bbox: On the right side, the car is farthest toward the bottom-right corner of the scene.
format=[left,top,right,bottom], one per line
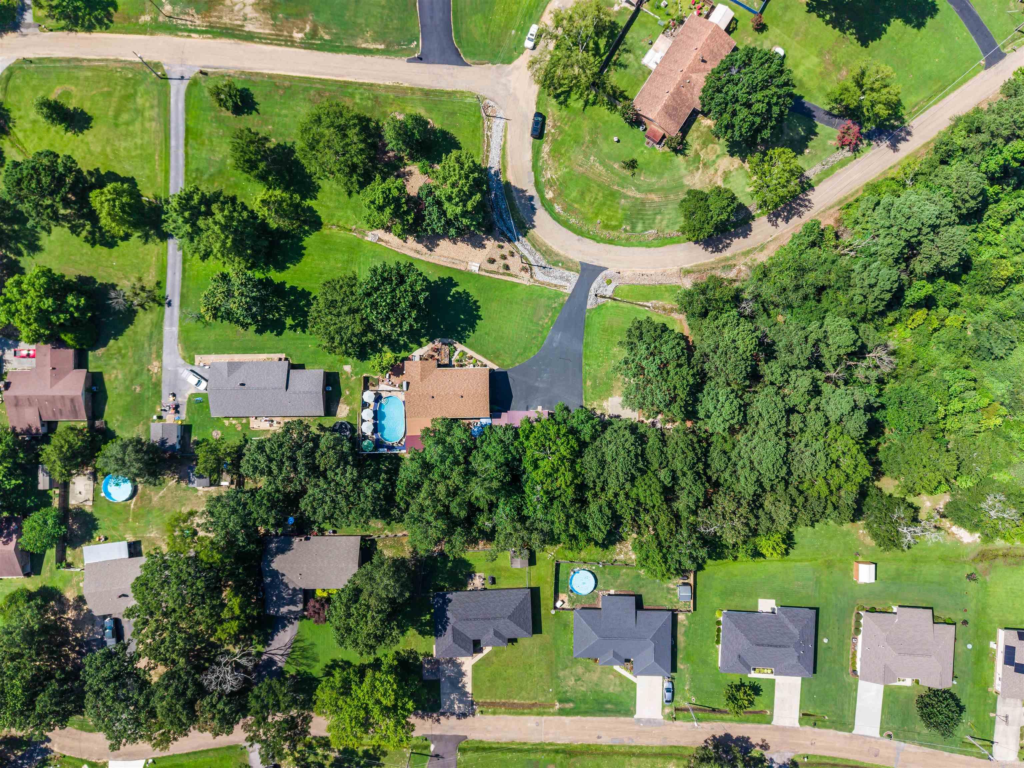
[663,679,675,707]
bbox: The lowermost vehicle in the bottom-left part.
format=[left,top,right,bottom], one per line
[102,617,117,650]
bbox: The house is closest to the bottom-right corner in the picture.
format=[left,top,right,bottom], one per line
[993,627,1024,699]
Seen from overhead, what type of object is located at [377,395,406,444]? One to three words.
swimming pool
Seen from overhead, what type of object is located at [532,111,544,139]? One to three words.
vehicle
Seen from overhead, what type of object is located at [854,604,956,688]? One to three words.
house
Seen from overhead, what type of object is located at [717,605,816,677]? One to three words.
house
